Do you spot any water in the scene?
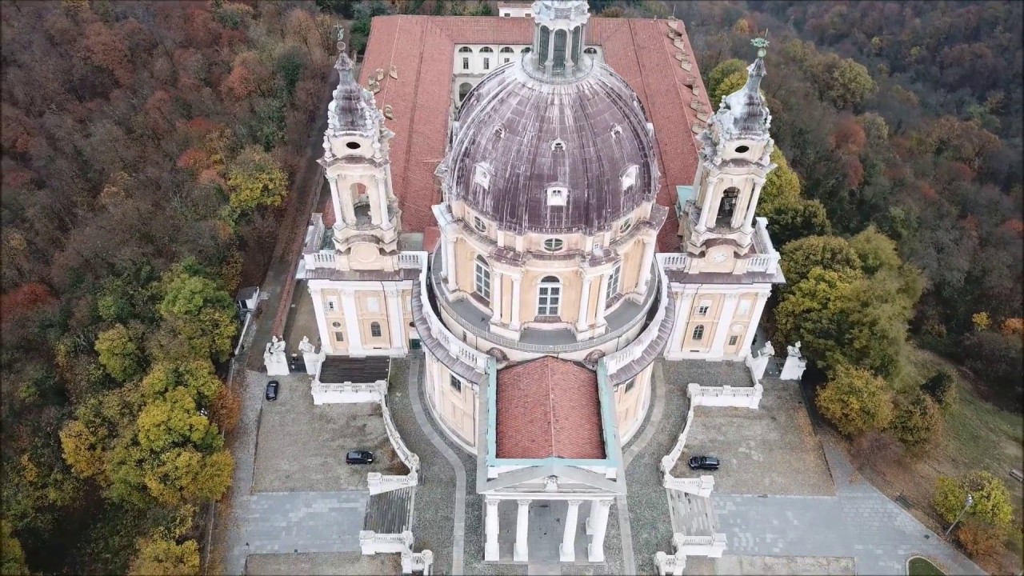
No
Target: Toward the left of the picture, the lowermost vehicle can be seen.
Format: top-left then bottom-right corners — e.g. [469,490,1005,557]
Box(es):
[346,450,374,464]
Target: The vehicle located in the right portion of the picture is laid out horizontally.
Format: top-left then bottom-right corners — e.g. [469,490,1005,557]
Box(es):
[688,455,720,470]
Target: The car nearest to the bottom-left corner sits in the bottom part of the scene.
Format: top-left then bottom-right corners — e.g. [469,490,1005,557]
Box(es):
[265,380,279,401]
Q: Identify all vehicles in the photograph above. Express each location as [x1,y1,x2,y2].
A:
[346,450,374,464]
[688,455,720,470]
[265,380,279,401]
